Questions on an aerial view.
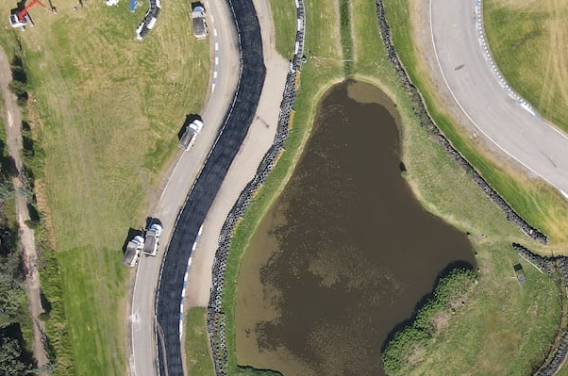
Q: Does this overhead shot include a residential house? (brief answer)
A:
No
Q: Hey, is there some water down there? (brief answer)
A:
Yes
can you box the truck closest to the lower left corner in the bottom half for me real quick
[119,233,143,268]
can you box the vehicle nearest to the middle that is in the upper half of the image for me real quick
[174,116,203,150]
